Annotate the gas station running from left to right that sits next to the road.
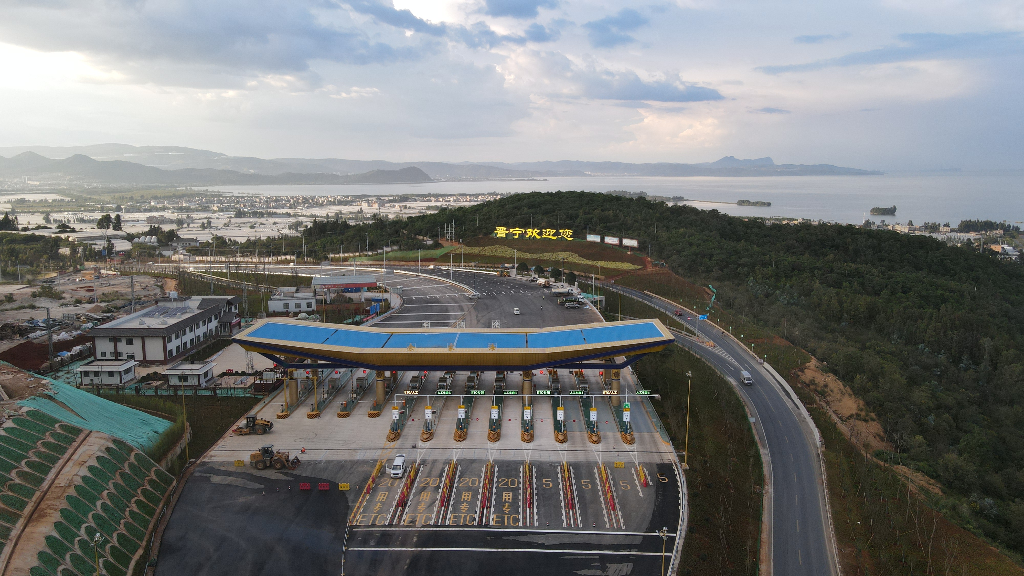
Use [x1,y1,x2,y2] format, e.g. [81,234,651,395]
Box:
[308,275,384,299]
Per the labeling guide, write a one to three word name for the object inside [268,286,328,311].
building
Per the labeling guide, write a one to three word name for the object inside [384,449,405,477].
vehicle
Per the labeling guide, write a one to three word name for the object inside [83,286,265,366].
building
